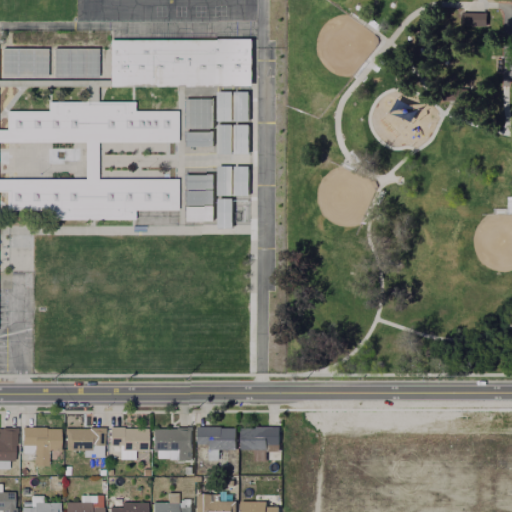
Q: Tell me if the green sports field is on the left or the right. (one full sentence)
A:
You can find the green sports field on the left side of the picture.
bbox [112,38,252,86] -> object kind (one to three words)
building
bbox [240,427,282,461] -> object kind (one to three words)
house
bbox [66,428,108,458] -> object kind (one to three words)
house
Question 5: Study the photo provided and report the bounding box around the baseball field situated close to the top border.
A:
[316,14,382,76]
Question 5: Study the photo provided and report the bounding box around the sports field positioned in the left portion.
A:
[34,236,251,374]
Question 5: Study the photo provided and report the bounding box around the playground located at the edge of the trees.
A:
[368,88,444,150]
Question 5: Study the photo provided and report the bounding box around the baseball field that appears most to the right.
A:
[476,212,512,274]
